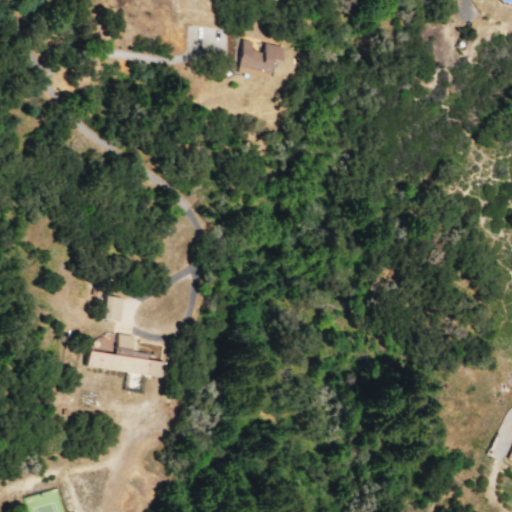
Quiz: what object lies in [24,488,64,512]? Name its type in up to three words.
tennis court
